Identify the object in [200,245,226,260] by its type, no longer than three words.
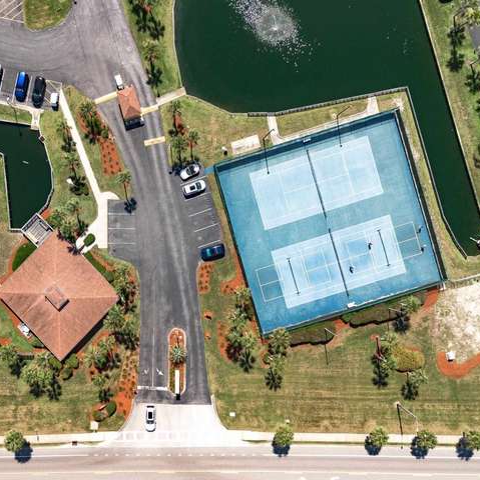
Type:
car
